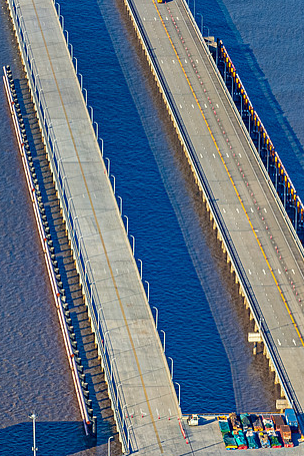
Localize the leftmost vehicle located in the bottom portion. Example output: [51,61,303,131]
[187,411,200,426]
